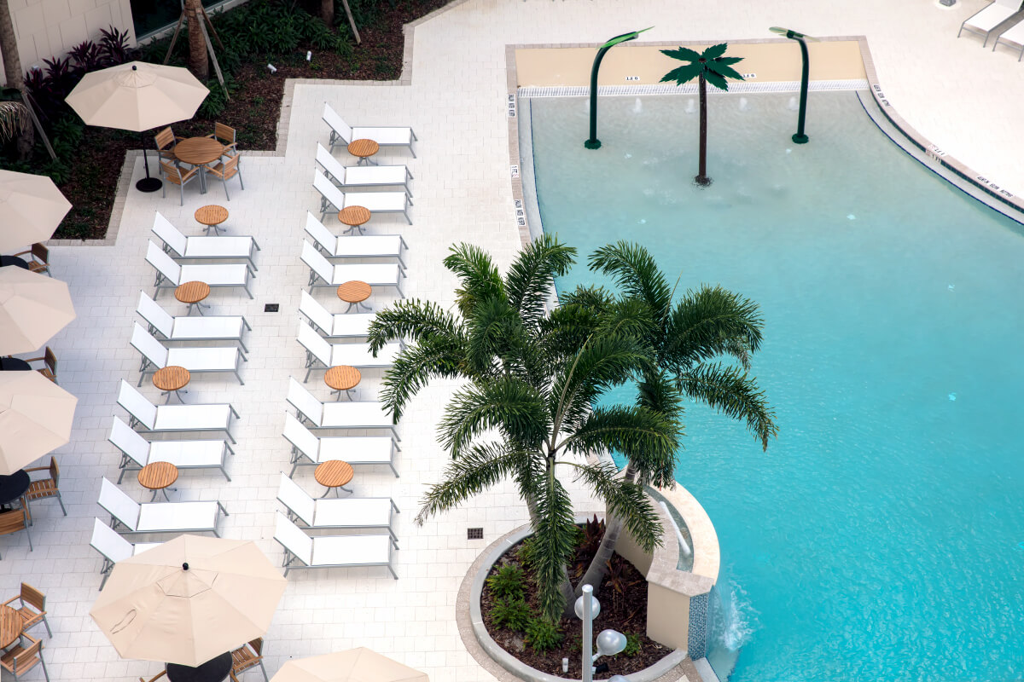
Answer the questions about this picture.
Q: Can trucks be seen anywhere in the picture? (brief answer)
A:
No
